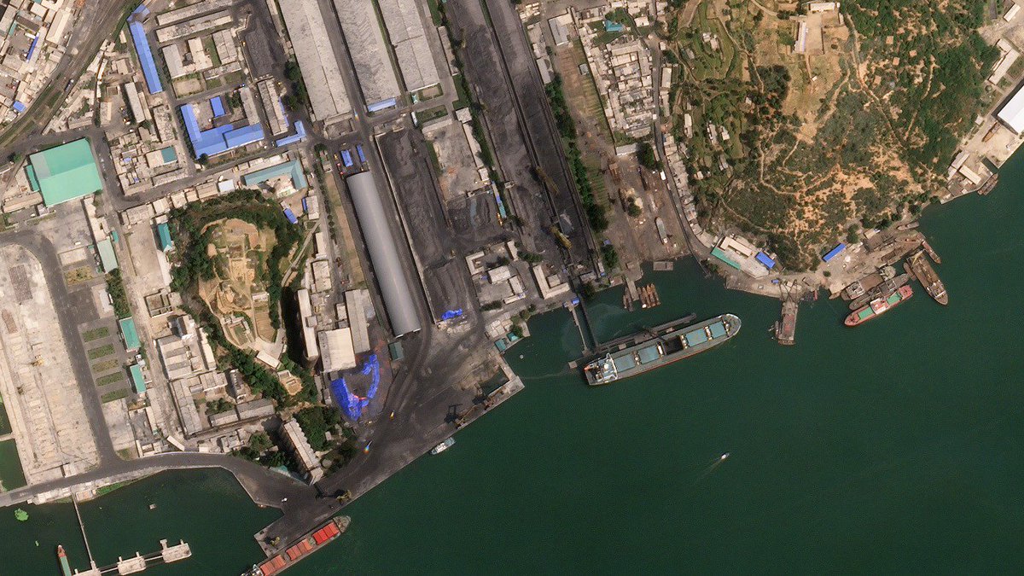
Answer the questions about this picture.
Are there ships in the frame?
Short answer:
Yes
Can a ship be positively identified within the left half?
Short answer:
Yes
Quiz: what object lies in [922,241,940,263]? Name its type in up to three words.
boat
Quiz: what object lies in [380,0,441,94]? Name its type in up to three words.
shed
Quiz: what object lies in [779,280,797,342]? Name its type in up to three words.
ship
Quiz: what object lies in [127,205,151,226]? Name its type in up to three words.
building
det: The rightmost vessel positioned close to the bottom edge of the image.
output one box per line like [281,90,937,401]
[243,517,352,576]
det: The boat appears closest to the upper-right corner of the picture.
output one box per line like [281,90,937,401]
[983,123,998,142]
